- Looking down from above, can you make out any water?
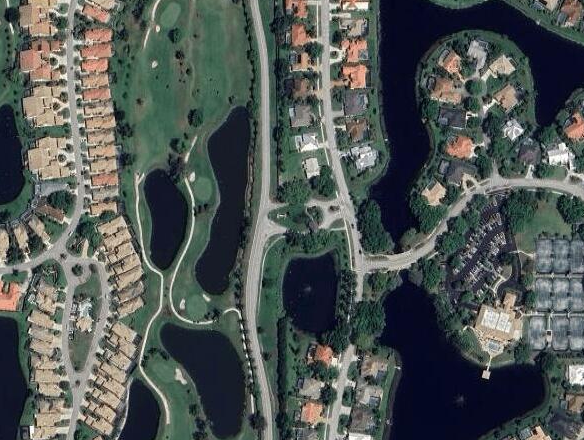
Yes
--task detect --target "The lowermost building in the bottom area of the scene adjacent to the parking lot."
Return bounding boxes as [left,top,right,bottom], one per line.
[473,299,521,338]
